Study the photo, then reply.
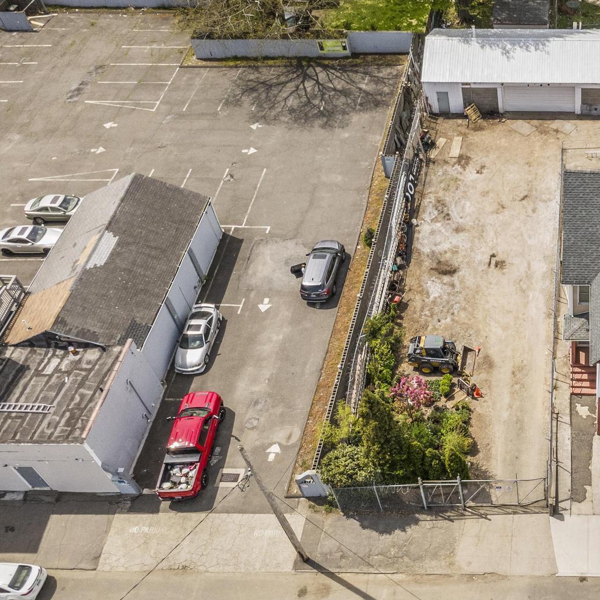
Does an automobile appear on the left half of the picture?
Yes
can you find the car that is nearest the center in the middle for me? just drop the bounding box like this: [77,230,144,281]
[287,238,345,301]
